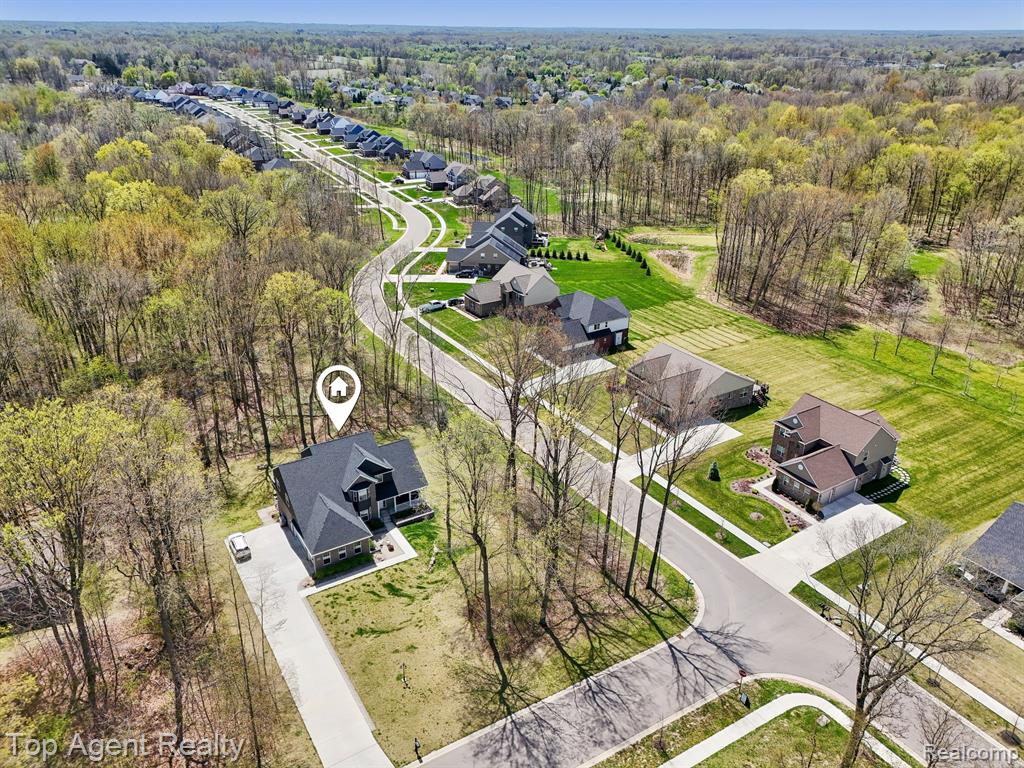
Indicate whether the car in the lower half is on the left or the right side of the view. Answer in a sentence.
The car in the lower half sits on the left side.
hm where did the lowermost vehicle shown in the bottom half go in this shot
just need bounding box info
[229,536,254,562]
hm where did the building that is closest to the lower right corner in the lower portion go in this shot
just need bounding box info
[958,504,1024,624]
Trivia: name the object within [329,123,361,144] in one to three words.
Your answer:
house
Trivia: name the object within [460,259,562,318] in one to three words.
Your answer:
house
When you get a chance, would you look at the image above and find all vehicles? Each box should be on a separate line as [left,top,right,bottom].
[445,297,463,306]
[229,536,254,562]
[420,300,445,310]
[455,271,475,279]
[419,195,433,201]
